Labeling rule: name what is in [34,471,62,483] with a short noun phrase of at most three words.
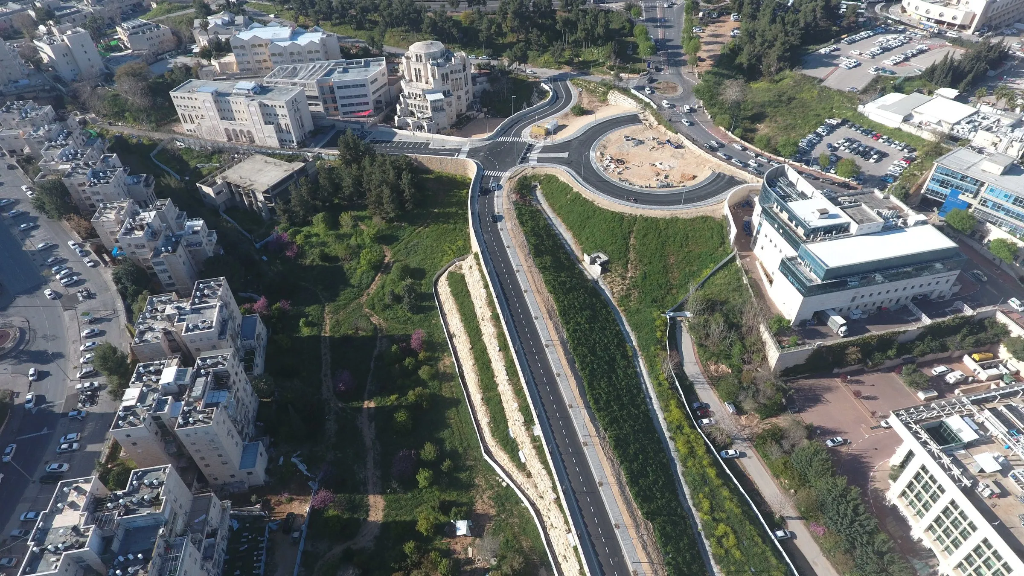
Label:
vehicle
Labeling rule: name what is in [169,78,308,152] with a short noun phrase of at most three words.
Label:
building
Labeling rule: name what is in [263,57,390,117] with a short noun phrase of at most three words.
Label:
building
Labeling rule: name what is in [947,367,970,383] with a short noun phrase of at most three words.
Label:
camper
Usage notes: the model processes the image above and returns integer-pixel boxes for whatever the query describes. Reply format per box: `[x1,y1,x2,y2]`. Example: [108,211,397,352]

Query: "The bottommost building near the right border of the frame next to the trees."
[877,383,1024,576]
